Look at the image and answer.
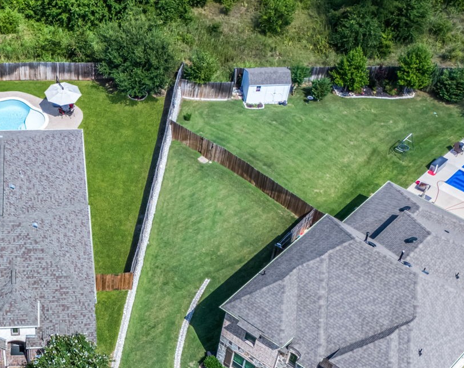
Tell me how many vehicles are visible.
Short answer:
0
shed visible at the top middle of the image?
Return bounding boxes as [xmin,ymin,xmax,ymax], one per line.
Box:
[242,65,292,104]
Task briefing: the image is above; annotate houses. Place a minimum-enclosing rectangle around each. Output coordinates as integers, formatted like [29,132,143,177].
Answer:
[0,129,100,368]
[218,181,464,368]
